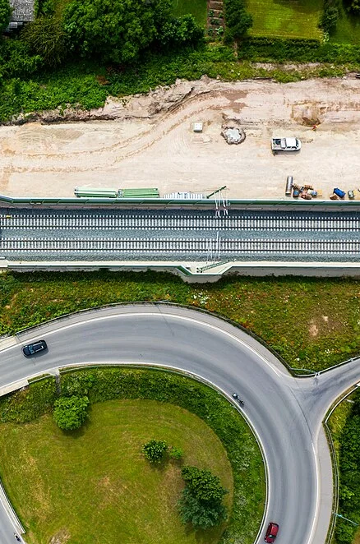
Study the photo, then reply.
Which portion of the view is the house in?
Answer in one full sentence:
The house is in the top left part of the image.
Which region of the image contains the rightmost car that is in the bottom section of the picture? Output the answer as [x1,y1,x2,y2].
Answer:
[264,520,280,543]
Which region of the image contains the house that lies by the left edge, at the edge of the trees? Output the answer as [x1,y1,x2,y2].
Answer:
[8,0,35,29]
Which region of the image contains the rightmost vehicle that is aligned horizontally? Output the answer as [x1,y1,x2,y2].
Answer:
[271,138,300,151]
